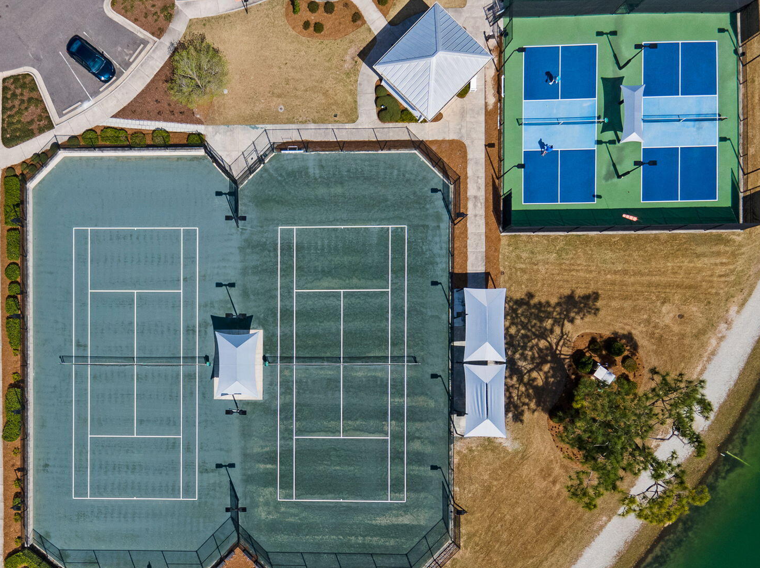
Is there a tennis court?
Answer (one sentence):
Yes, the photo shows a tennis court.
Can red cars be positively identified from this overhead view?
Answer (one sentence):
No, I find no red car anywhere in the image.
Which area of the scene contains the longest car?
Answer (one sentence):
You can find the longest car in the top left area of the picture.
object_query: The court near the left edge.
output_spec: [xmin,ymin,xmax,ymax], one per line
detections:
[25,150,239,568]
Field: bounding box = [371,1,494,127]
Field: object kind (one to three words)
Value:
building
